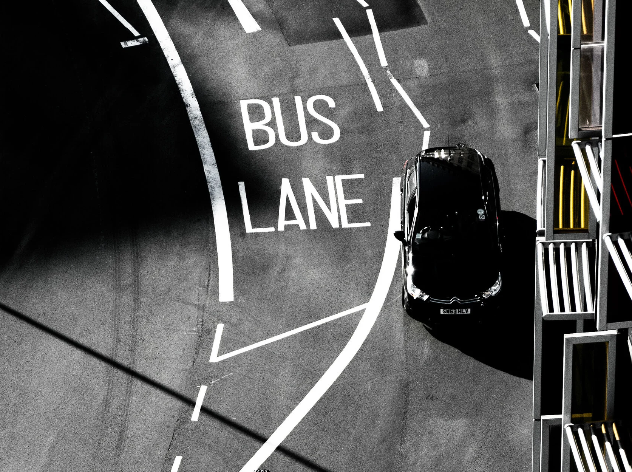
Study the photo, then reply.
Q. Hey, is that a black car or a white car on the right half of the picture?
black car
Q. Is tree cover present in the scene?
No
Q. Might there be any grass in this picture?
No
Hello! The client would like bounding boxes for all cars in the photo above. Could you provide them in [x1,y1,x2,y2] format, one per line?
[390,128,516,325]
